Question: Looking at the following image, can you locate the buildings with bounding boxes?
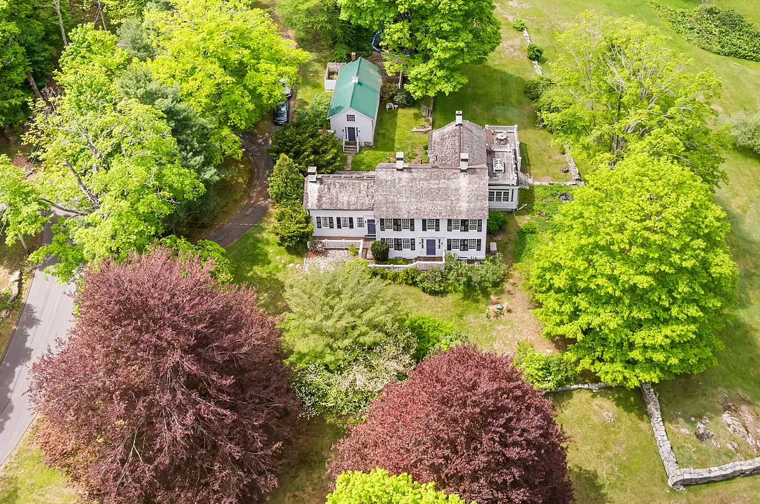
[304,104,543,267]
[327,50,382,153]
